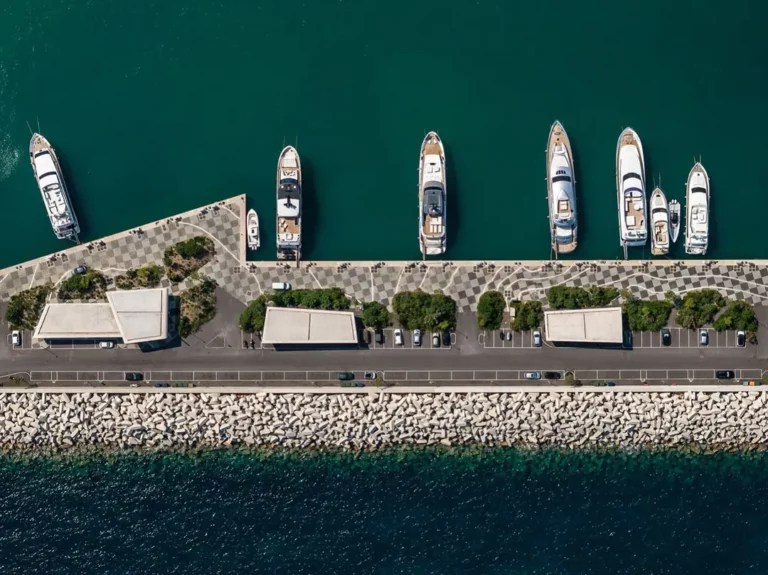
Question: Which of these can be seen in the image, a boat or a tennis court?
boat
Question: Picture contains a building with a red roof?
No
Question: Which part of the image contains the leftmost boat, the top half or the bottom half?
top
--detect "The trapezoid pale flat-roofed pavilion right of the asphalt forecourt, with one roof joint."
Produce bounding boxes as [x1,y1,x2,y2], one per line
[262,307,358,343]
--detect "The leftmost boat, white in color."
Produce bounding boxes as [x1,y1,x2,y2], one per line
[28,119,92,252]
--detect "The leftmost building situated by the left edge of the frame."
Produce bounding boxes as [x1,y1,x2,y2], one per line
[33,288,169,344]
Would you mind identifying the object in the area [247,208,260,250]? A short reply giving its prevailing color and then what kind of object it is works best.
white boat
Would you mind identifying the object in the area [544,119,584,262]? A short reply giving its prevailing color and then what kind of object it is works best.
white boat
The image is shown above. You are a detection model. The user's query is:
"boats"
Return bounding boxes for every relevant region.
[276,138,310,268]
[682,156,710,259]
[418,128,447,262]
[616,126,647,262]
[544,119,584,262]
[650,179,679,262]
[28,119,92,252]
[247,208,260,250]
[669,201,680,243]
